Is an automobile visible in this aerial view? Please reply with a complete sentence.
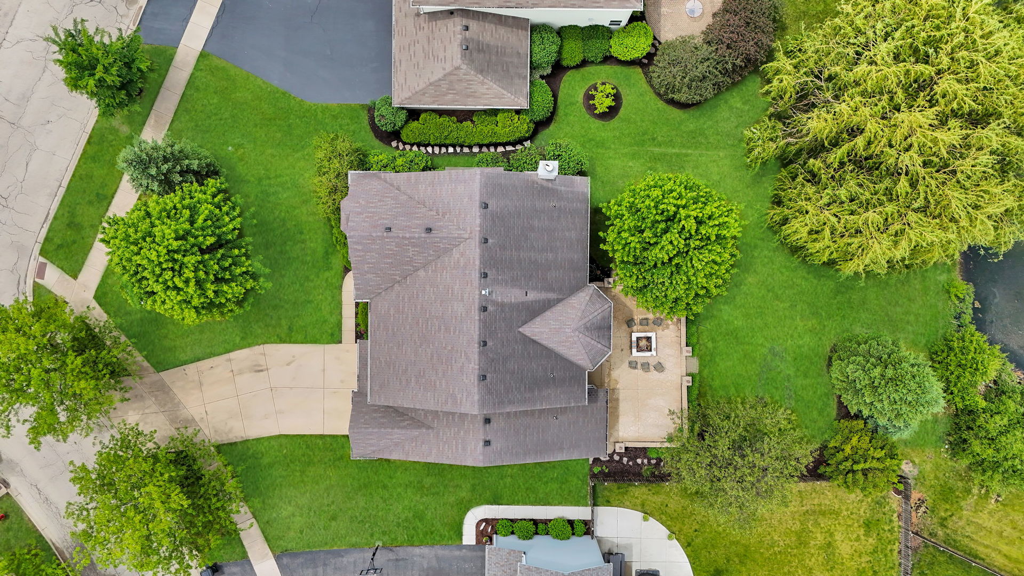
No, no automobile is visible in the view.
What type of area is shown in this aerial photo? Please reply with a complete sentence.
This image shows a residential area.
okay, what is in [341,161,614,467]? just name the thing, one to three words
house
